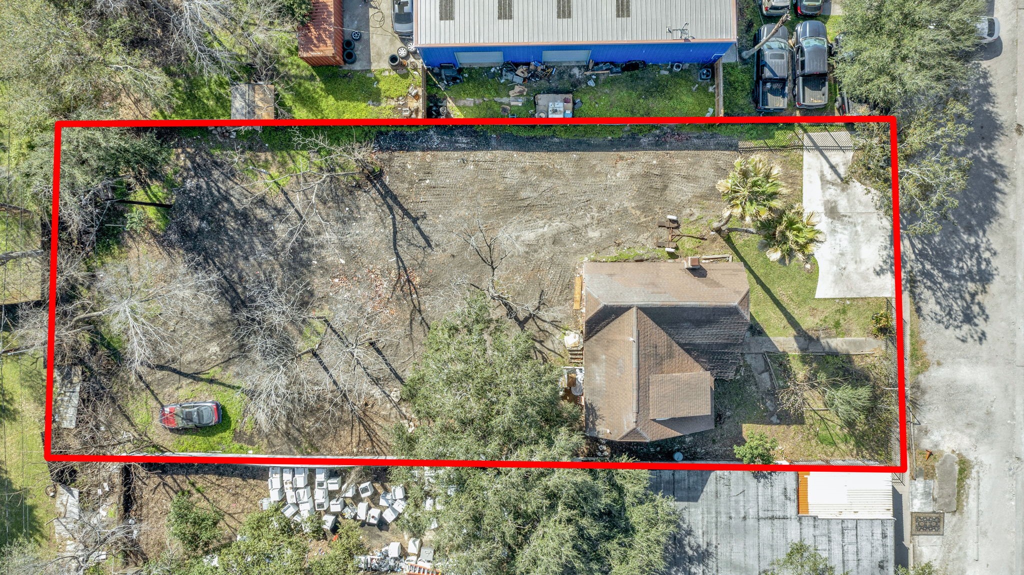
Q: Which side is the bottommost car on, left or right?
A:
left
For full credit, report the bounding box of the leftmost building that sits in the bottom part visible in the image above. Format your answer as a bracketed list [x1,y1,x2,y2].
[581,258,752,442]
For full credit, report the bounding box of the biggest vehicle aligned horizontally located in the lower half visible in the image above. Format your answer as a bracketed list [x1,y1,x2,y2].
[160,398,225,430]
